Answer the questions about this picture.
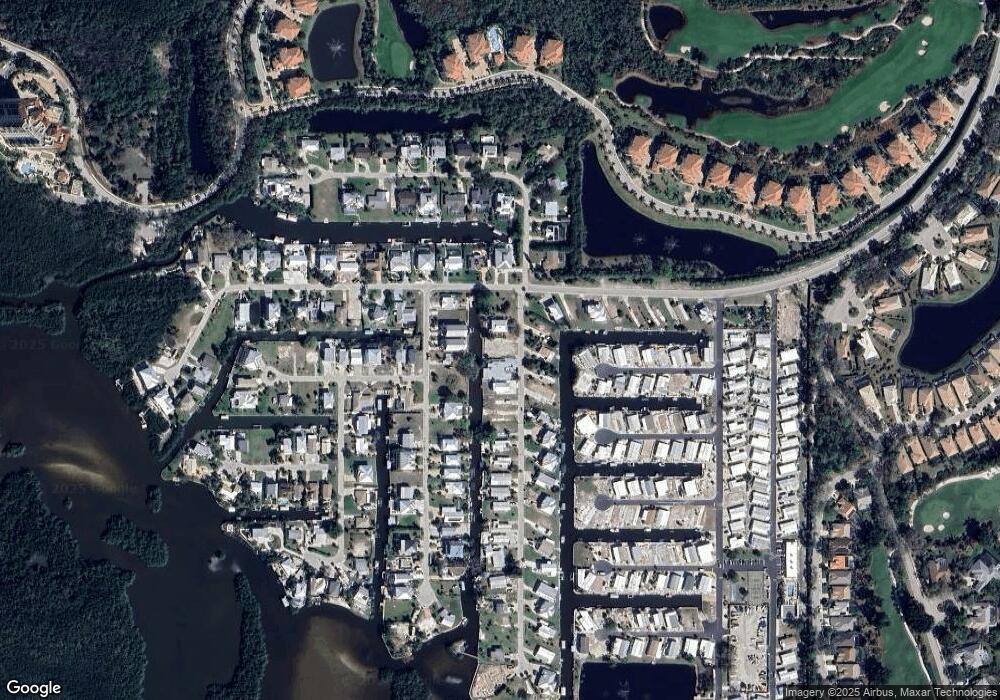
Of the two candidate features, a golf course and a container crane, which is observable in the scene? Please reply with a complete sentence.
Of the two, only a golf course appears.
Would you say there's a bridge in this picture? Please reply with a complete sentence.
No, no bridge is visible in the scene.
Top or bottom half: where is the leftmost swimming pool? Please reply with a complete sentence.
The top half of the photo is where the leftmost swimming pool is.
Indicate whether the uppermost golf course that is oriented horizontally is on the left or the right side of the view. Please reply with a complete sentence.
The uppermost golf course that is oriented horizontally appears in the right half of the scene.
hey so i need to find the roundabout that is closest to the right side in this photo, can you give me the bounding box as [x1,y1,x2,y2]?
[916,215,953,257]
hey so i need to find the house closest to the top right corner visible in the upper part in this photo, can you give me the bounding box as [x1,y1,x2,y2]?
[928,95,959,124]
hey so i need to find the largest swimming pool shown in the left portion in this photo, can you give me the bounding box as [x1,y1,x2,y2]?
[18,157,60,180]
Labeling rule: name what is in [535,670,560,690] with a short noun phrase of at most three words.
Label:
house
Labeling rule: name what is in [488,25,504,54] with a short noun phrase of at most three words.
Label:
swimming pool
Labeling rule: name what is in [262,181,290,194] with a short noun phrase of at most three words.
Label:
house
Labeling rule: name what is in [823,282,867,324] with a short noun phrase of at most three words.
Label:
roundabout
